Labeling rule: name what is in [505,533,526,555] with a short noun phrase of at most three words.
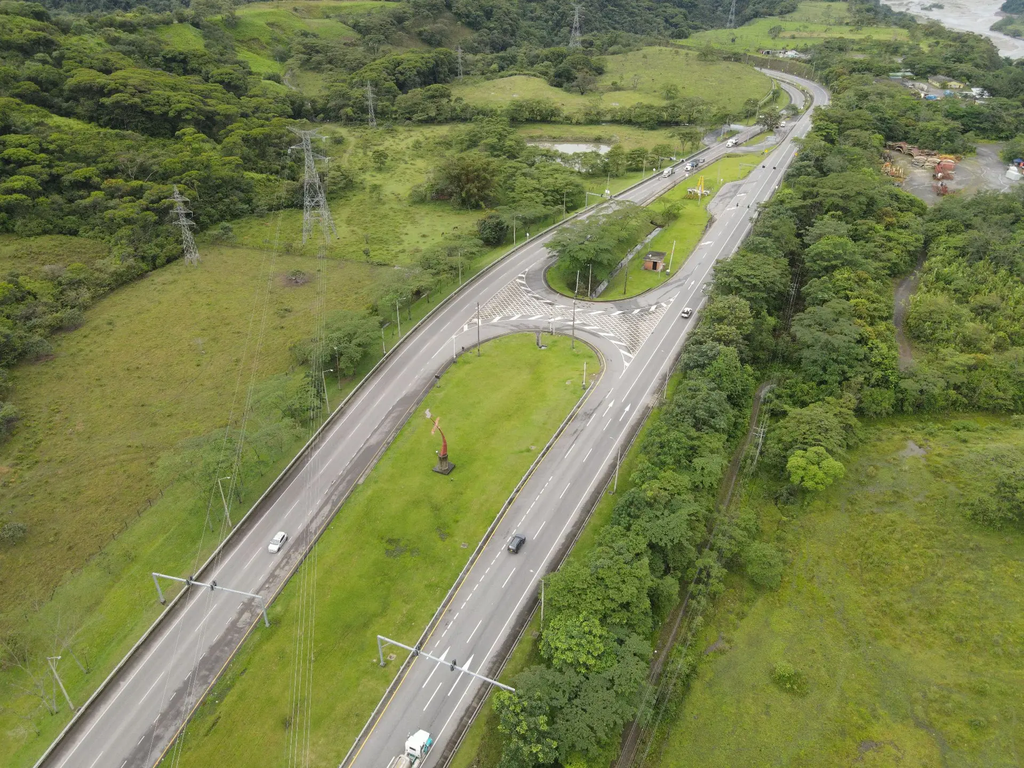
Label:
car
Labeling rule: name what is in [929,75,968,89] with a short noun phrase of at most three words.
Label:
house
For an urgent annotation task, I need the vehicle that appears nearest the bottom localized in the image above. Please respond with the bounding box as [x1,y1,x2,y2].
[392,727,435,768]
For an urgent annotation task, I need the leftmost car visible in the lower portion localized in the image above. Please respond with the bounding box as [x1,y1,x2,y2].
[265,528,289,553]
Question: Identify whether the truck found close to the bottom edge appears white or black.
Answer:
white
